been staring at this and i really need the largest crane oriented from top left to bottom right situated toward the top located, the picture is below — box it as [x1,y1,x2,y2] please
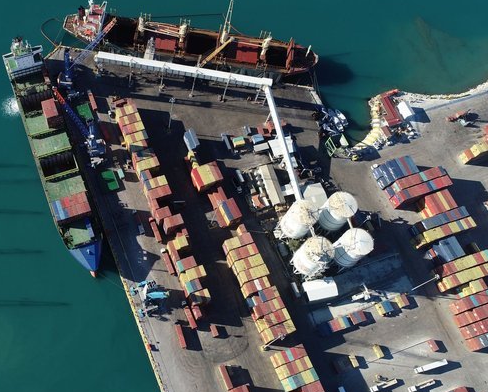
[32,85,115,164]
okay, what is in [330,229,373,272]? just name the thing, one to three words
silo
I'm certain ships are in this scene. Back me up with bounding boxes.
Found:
[61,0,318,81]
[7,44,104,282]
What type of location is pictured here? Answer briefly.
port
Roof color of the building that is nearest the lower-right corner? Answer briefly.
white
